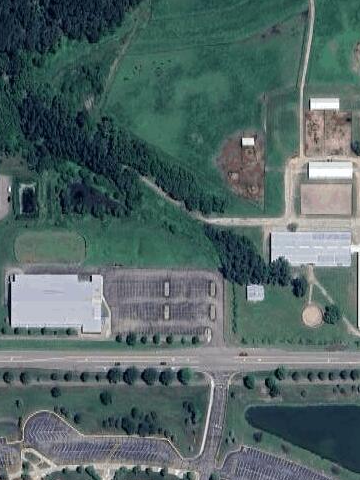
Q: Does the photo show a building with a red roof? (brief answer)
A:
No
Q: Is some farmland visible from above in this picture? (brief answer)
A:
Yes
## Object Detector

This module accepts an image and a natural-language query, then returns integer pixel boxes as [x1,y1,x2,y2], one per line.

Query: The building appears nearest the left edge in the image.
[11,274,104,336]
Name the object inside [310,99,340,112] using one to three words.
barn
